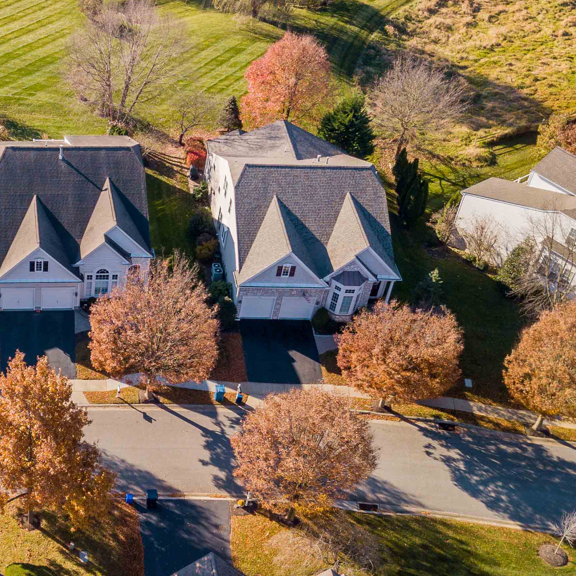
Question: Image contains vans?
No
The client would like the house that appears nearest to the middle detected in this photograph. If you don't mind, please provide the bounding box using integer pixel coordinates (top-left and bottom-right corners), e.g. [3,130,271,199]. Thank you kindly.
[206,116,398,319]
